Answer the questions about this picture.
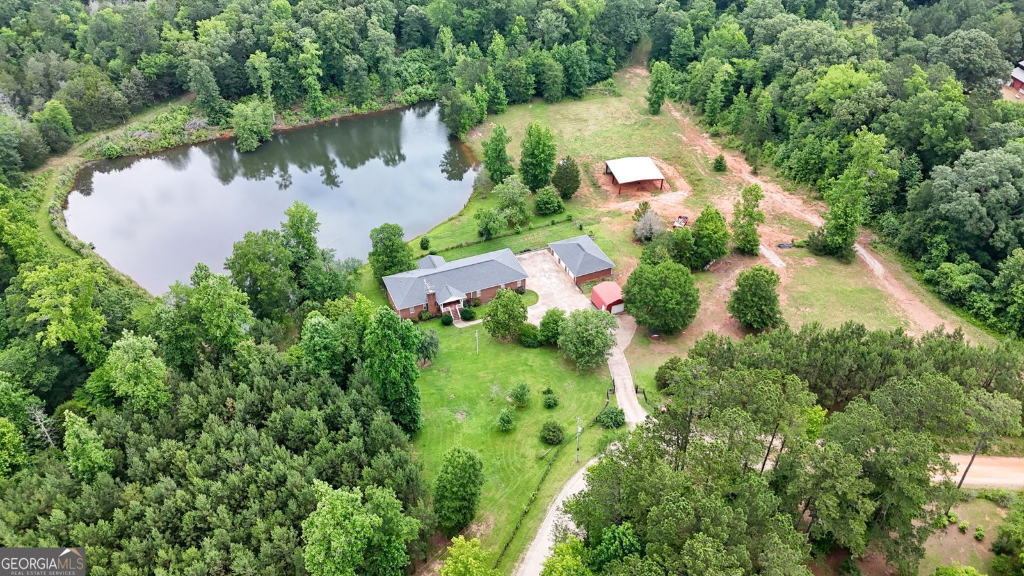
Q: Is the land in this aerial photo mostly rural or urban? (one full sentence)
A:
The area shown here is rural.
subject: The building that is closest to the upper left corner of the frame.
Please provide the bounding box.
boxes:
[383,248,530,322]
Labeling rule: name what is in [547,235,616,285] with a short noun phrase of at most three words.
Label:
building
